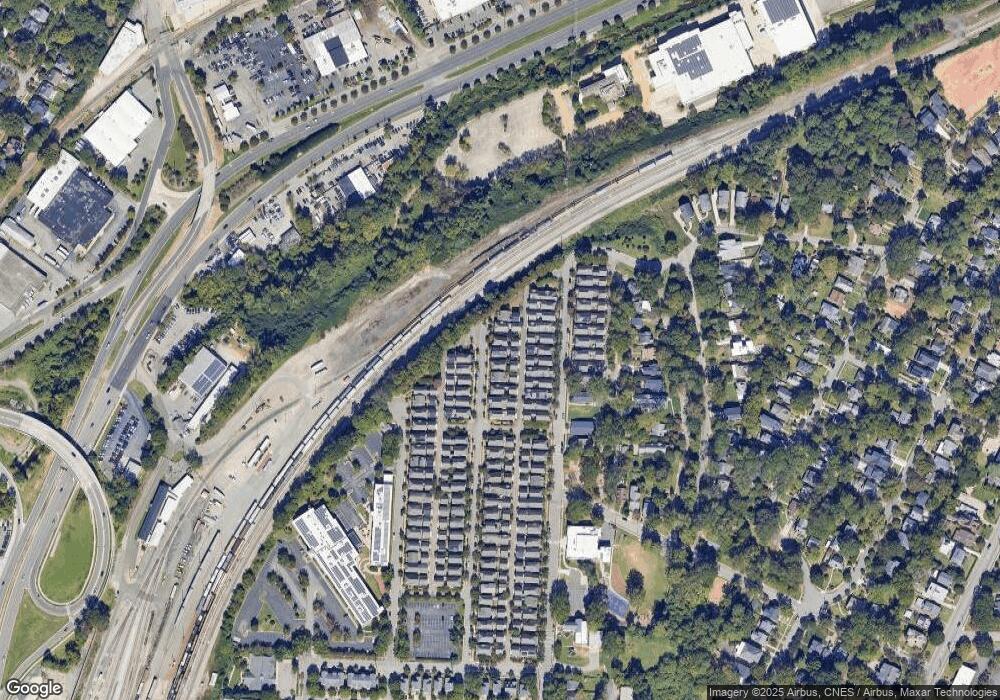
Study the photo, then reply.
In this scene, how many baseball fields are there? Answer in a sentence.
I count just 1 baseball field.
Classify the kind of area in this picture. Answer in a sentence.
The area seen from above is a residential area.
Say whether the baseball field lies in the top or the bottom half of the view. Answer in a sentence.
The baseball field is in the bottom half of the image.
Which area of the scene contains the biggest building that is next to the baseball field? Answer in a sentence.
The biggest building that is next to the baseball field sits in the bottom section of the image.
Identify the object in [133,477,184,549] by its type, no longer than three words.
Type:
shed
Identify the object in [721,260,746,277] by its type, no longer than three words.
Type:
house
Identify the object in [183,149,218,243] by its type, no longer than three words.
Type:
overpass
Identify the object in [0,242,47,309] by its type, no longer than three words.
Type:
building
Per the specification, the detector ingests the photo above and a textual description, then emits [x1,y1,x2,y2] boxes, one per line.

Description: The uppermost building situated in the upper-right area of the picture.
[764,0,815,57]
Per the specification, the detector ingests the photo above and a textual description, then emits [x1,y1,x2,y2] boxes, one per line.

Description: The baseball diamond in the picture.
[612,528,667,610]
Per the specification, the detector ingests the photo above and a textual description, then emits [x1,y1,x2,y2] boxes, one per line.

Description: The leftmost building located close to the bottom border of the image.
[237,656,277,690]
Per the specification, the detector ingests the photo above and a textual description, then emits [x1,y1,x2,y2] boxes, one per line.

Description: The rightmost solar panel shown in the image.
[764,0,801,23]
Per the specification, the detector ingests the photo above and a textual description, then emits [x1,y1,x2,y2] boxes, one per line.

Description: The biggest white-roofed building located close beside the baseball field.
[567,526,602,559]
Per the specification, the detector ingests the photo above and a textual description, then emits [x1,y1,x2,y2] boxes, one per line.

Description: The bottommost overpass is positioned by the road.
[0,406,112,613]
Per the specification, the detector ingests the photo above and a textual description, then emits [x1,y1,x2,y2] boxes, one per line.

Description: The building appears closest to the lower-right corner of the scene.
[942,668,976,700]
